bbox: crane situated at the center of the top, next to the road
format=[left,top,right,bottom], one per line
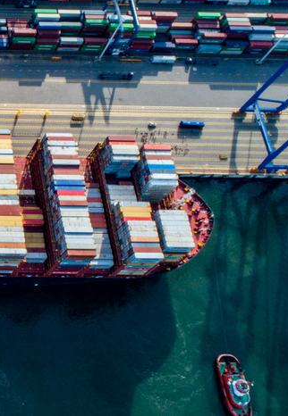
[103,0,142,53]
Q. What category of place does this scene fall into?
port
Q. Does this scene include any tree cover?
No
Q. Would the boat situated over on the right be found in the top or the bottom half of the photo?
bottom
